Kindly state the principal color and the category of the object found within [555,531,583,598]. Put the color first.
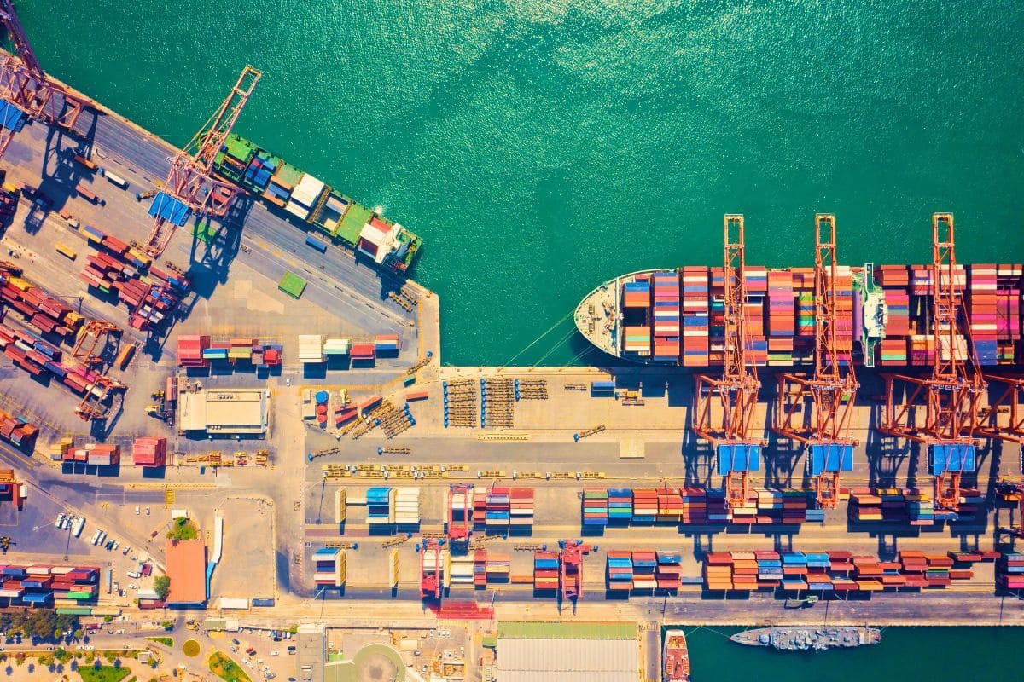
red crane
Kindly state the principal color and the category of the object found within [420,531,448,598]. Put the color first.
red crane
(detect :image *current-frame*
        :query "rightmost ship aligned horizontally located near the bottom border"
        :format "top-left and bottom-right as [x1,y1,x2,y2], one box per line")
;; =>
[731,619,880,653]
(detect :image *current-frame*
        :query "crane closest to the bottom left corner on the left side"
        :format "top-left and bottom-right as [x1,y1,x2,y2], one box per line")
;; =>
[78,369,139,418]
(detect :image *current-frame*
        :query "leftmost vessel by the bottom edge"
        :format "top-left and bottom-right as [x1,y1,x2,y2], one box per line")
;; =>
[662,629,691,682]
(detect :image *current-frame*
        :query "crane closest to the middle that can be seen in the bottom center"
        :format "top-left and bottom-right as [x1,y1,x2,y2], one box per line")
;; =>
[447,475,474,540]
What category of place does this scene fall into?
port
